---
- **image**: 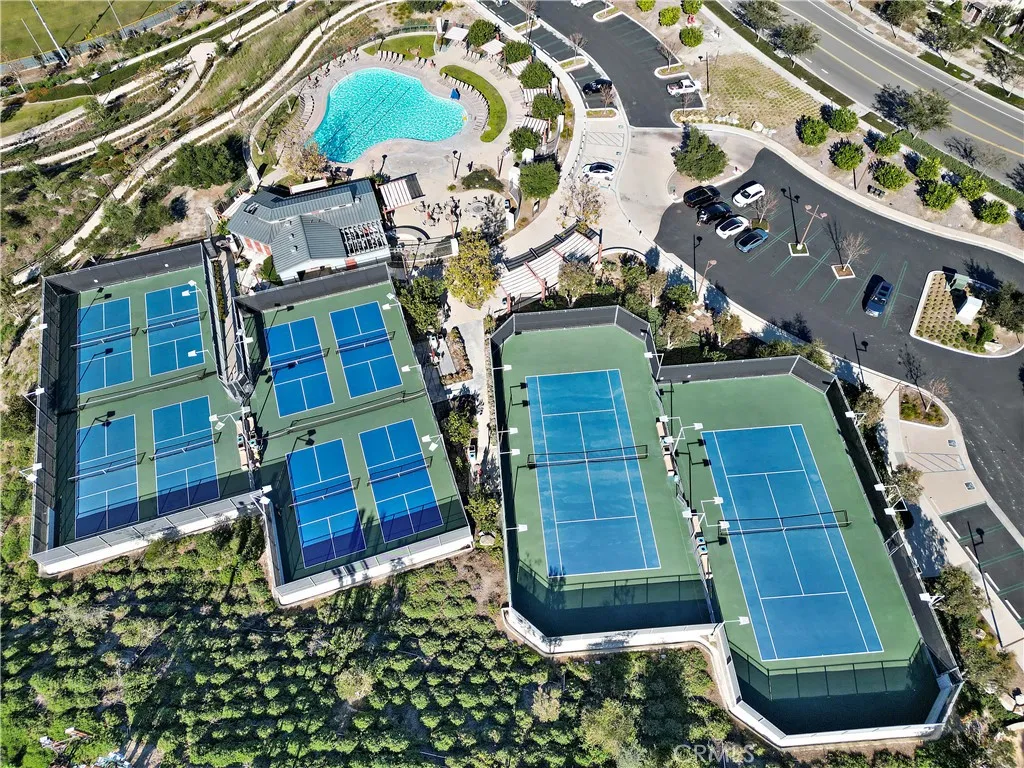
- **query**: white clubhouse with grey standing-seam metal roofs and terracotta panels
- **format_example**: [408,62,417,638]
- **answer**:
[230,181,393,288]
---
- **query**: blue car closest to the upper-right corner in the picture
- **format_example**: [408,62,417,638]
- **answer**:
[867,281,896,314]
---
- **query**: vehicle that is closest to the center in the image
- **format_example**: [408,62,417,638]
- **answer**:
[583,164,617,180]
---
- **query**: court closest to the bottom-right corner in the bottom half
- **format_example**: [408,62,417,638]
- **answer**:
[659,373,942,737]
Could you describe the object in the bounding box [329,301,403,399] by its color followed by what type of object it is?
blue sports court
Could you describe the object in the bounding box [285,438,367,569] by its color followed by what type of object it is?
blue sports court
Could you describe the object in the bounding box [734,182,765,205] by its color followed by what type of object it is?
white car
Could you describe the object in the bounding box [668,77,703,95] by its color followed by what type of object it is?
white vehicle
